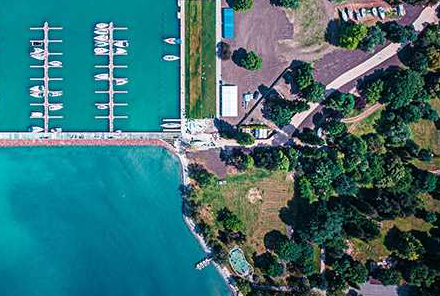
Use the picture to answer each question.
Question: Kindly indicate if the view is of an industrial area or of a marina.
marina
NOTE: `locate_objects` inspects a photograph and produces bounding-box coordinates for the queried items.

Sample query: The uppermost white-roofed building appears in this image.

[220,86,238,116]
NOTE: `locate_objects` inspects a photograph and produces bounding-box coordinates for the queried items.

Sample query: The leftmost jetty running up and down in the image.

[30,22,63,131]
